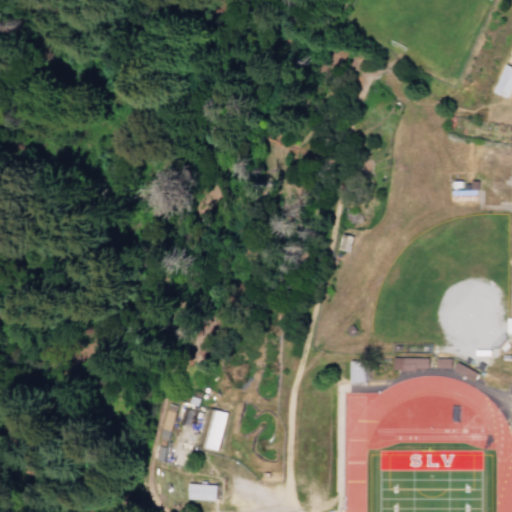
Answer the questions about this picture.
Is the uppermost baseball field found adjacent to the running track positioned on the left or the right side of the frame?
right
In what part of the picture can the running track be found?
bottom right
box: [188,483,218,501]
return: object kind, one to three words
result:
building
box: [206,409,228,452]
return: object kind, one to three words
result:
building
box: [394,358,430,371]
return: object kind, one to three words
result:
shed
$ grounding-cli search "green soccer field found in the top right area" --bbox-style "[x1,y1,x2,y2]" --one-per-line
[354,0,497,82]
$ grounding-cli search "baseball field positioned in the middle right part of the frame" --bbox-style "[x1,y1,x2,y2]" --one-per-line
[375,214,510,358]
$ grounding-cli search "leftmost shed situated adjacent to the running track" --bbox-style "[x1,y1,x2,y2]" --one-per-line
[351,361,367,384]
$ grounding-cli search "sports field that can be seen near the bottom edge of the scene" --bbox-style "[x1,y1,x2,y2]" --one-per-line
[369,442,496,512]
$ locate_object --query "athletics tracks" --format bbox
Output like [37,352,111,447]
[346,376,512,512]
